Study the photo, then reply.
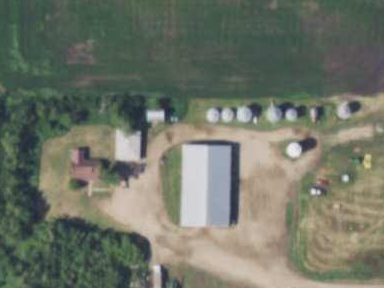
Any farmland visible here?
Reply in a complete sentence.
Yes, there's farmland in this view.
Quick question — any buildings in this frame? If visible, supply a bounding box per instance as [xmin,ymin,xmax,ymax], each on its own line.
[71,148,100,181]
[180,144,231,228]
[116,130,141,160]
[146,109,163,121]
